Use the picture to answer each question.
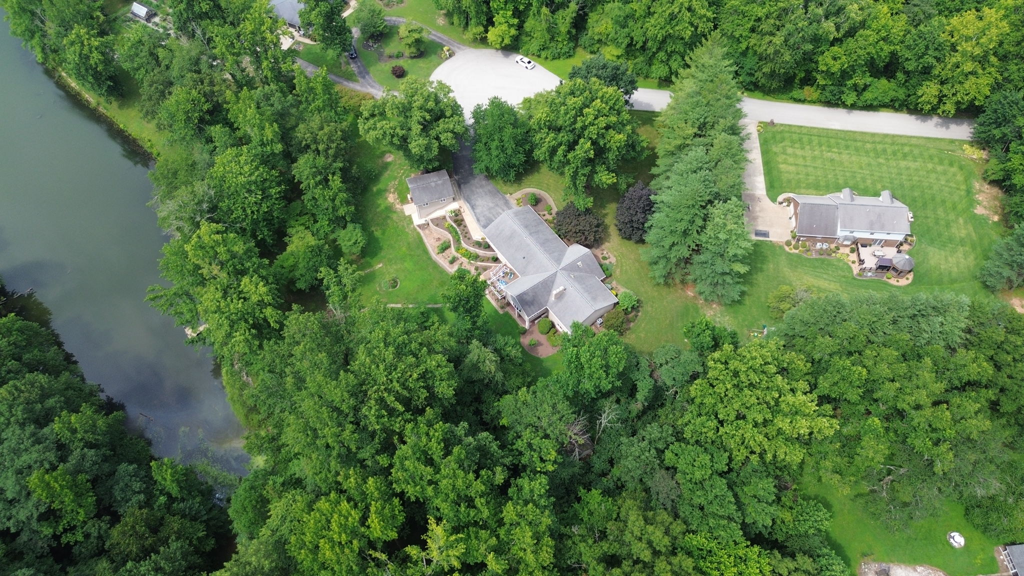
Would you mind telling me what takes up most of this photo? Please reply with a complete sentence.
The largest share of the image is taken up by trees.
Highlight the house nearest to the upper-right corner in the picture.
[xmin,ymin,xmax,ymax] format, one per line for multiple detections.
[786,185,917,252]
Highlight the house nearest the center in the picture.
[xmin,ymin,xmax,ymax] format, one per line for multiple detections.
[482,206,619,339]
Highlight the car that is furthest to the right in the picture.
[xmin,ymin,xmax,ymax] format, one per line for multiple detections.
[514,55,535,69]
